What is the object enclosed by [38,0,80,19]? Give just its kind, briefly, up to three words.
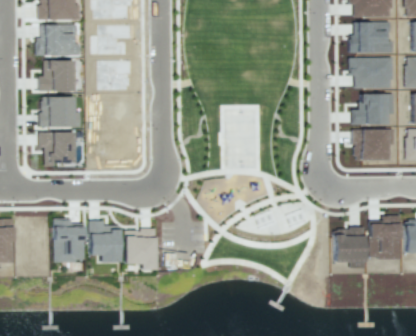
house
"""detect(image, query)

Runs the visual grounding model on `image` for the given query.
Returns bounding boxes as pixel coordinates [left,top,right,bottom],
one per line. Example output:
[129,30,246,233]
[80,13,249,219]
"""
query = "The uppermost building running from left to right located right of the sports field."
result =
[352,0,394,18]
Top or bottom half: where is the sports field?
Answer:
top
